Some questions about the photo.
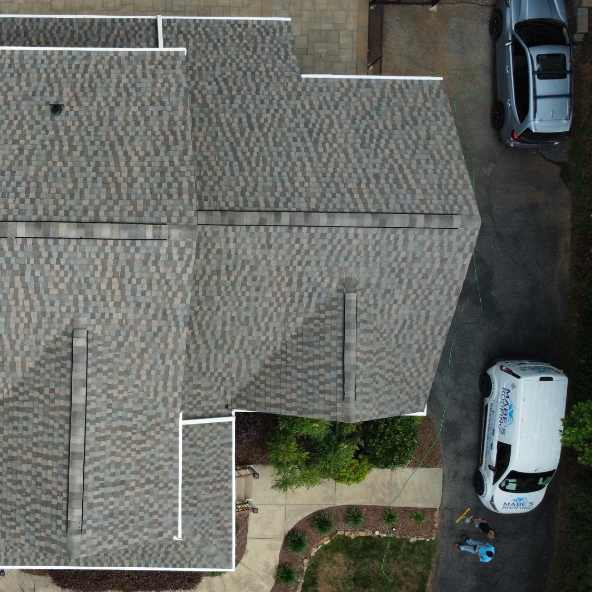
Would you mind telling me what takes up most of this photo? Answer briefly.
buildings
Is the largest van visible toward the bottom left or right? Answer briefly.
right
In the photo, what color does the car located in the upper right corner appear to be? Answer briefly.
black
